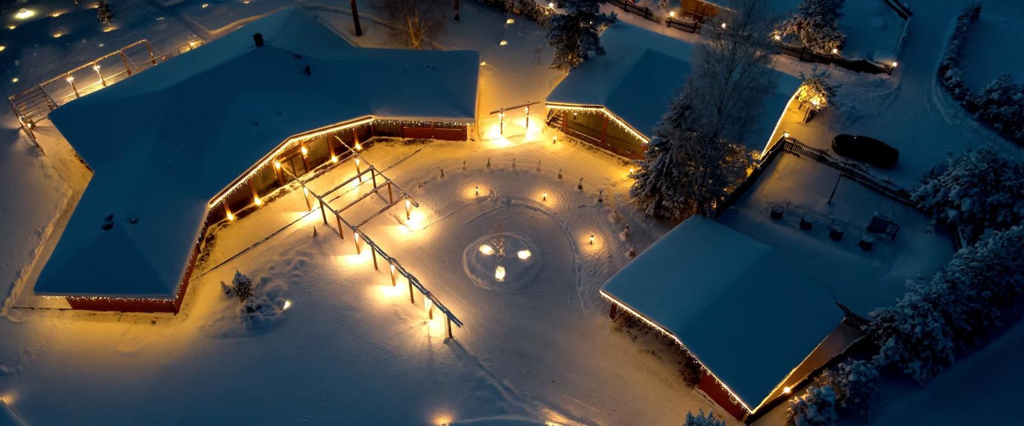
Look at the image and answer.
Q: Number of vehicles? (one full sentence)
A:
I count just 1 vehicle.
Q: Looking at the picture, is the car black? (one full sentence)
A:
Yes, the car appears black.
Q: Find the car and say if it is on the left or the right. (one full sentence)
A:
The car sits on the right side.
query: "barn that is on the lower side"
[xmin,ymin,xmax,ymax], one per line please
[599,217,844,423]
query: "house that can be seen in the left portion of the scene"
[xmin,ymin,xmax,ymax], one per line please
[36,8,479,312]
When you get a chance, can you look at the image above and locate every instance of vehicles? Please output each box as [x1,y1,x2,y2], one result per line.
[834,135,905,173]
